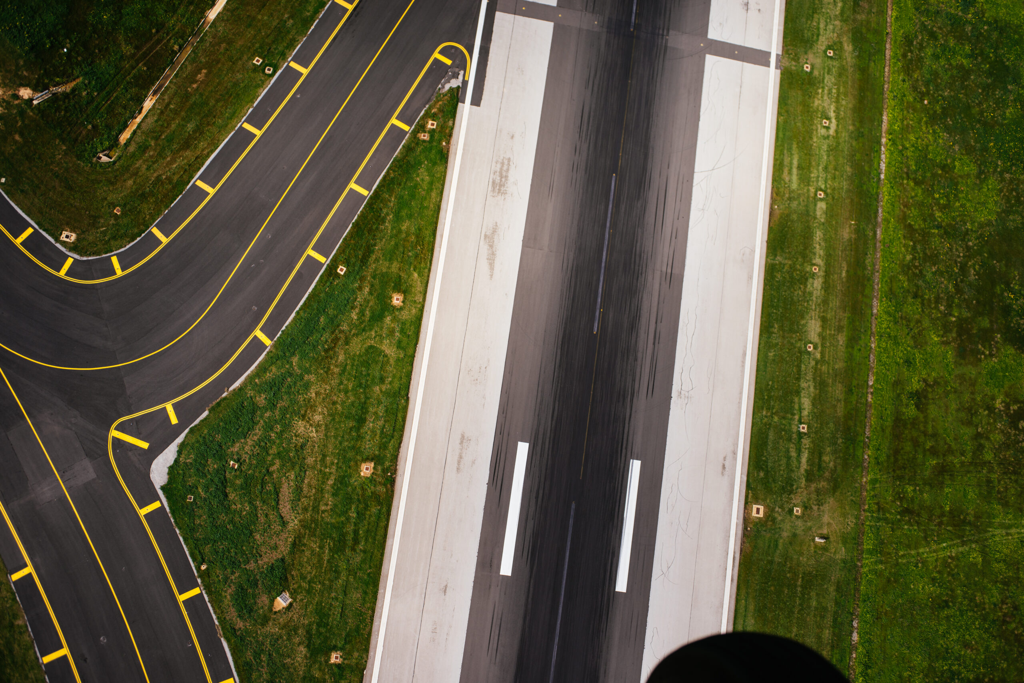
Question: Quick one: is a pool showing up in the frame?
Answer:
No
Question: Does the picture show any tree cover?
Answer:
No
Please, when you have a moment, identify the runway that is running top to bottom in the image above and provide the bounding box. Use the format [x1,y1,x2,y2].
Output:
[364,0,787,683]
